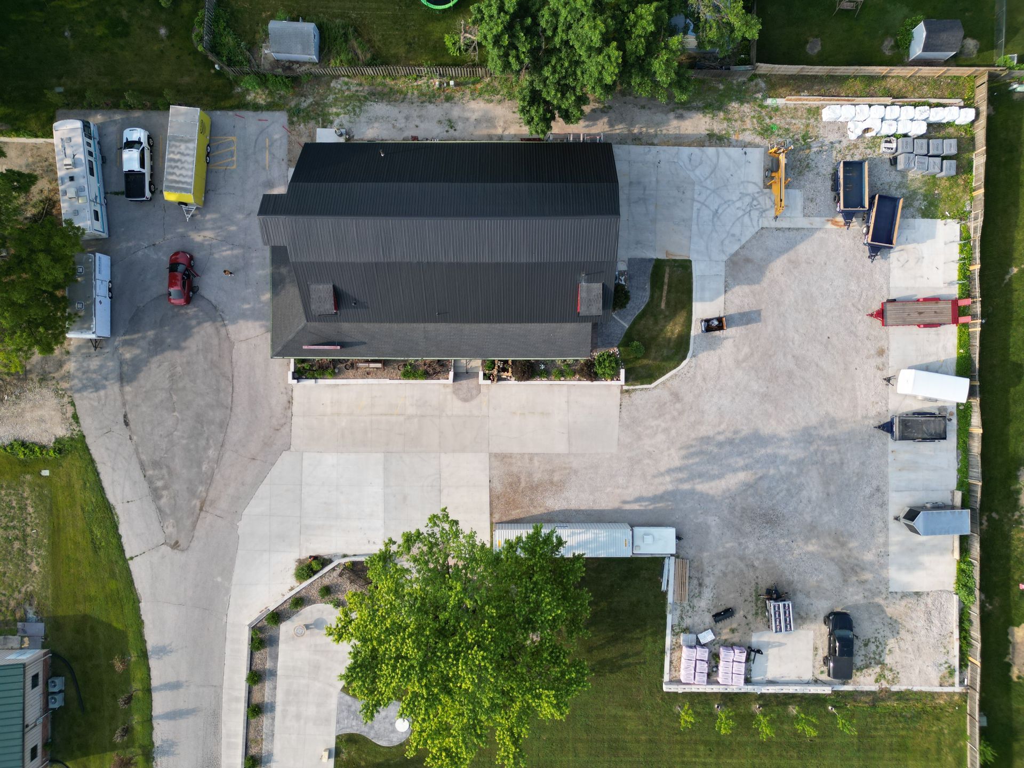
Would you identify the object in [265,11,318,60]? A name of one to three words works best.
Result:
shed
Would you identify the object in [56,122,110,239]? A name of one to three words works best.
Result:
camper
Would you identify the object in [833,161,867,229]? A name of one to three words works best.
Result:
trailer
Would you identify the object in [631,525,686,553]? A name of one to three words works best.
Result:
vehicle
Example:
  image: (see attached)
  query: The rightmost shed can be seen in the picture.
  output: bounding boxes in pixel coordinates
[911,18,966,61]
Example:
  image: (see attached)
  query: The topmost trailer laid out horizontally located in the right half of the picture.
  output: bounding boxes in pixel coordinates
[866,299,972,328]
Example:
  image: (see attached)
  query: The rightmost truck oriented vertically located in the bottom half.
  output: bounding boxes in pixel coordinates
[822,610,855,682]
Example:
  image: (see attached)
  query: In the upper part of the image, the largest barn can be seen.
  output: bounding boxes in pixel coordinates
[256,143,621,358]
